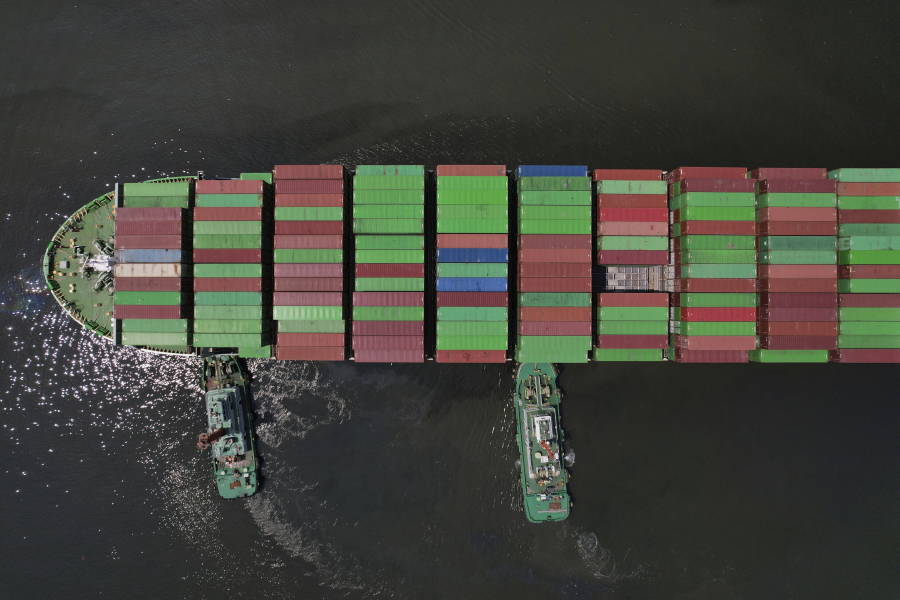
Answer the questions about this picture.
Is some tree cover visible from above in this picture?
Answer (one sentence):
No, there's no tree cover in this view.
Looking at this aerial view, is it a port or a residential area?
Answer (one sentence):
This looks like a port.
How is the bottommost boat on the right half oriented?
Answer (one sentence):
From this overhead view, the bottommost boat on the right half appears to run from top to bottom.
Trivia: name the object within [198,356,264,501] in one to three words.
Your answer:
boat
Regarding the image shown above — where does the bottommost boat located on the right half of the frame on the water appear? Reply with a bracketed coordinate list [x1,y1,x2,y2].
[510,362,574,524]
